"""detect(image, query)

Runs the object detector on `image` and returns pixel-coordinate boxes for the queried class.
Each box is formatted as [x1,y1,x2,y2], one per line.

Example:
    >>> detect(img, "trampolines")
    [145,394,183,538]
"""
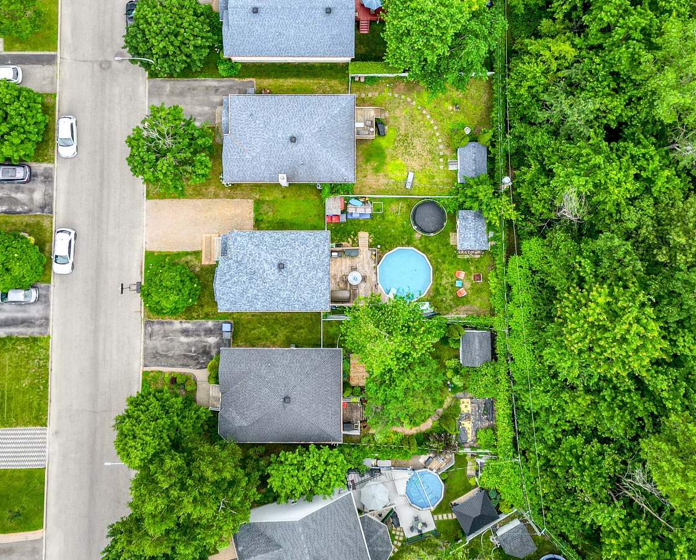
[410,199,446,235]
[537,551,562,560]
